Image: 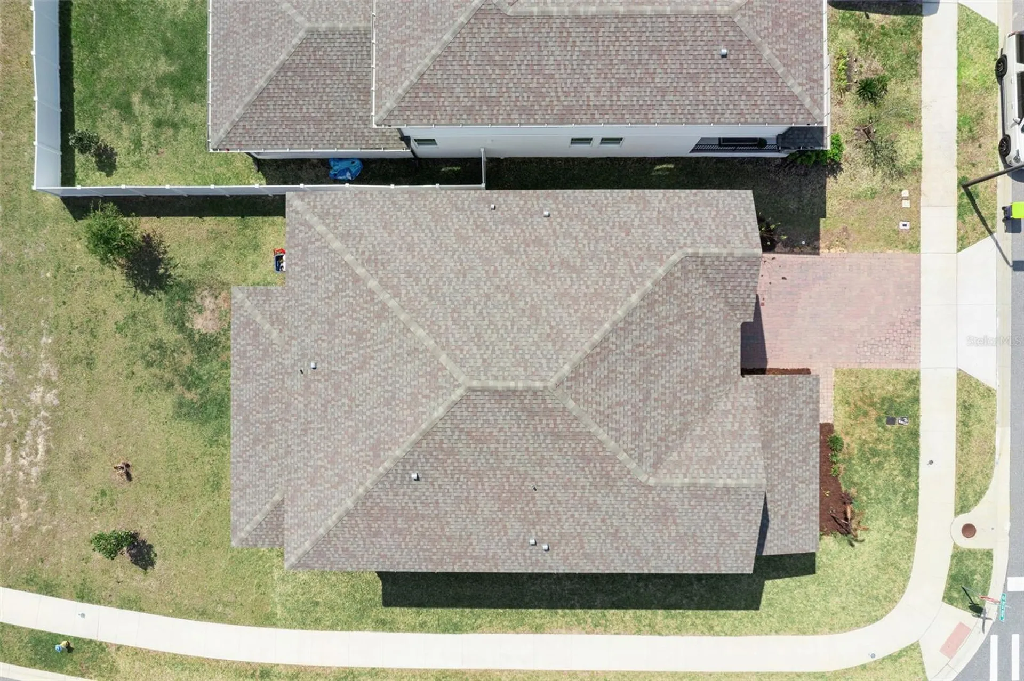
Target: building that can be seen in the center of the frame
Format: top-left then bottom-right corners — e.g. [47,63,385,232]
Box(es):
[228,187,819,574]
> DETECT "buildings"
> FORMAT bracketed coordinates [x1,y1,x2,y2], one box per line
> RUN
[206,0,830,158]
[228,187,819,574]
